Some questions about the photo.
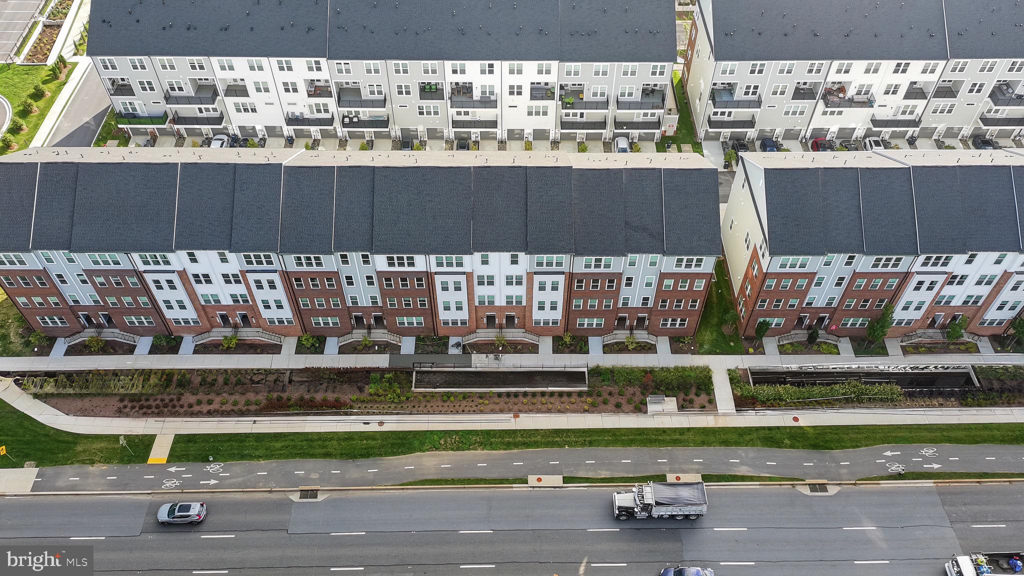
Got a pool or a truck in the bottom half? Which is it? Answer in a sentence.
It is a truck that can be seen in the bottom half.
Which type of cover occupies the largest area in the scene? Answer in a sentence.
The bulk of the photo consists of buildings.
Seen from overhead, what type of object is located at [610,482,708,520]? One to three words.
truck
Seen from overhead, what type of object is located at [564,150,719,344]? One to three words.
house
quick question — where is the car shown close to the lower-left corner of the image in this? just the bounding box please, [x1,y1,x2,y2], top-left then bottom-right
[159,501,209,526]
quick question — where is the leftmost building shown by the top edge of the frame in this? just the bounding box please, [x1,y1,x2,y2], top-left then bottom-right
[88,0,180,138]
